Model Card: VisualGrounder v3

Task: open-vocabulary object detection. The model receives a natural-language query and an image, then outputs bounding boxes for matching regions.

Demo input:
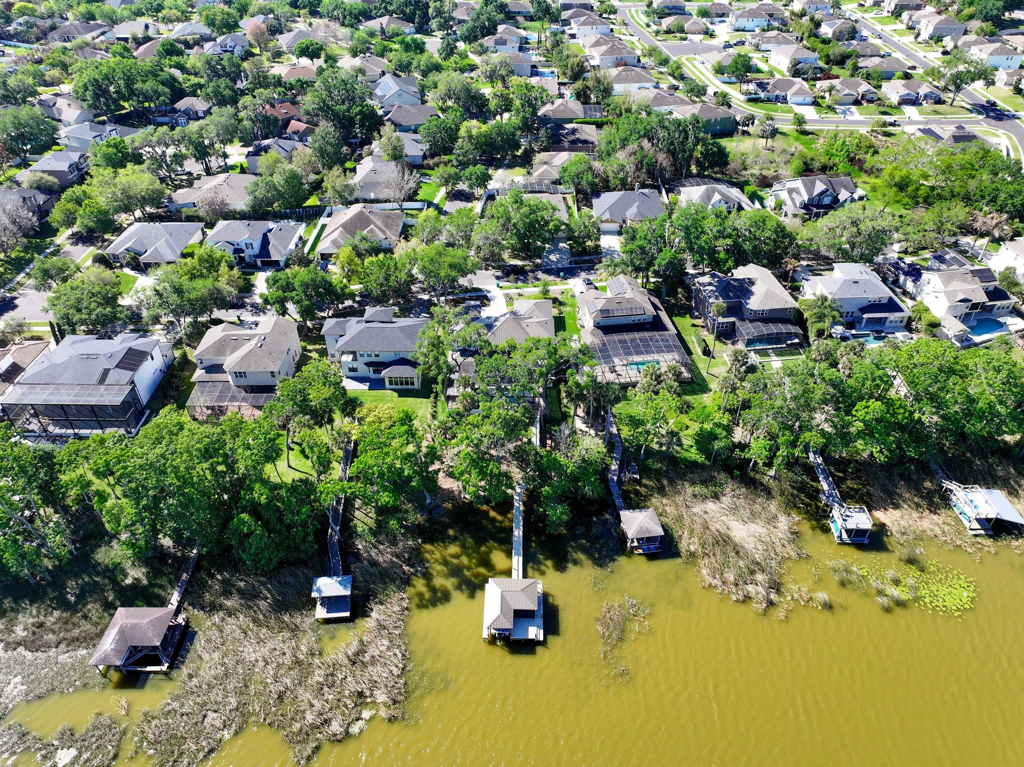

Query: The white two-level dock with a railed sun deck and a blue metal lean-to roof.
[946,486,1024,537]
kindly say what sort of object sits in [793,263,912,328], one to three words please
house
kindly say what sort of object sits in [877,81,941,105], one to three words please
house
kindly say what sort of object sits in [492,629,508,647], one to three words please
boat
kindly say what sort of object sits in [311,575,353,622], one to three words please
pier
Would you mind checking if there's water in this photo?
Yes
